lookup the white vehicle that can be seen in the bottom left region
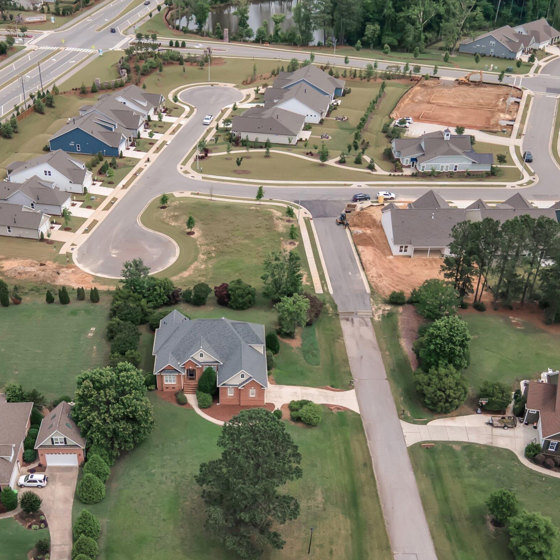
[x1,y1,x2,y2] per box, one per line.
[16,472,50,489]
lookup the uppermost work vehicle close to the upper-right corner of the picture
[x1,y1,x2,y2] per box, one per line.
[455,67,490,86]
